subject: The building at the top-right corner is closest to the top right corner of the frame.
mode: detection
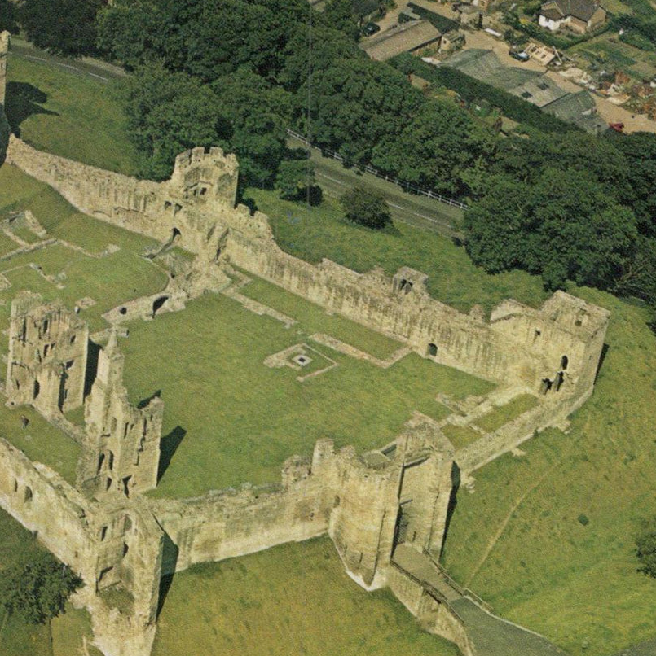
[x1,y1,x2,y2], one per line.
[539,0,594,33]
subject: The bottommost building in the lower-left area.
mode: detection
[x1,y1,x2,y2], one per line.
[70,476,171,656]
